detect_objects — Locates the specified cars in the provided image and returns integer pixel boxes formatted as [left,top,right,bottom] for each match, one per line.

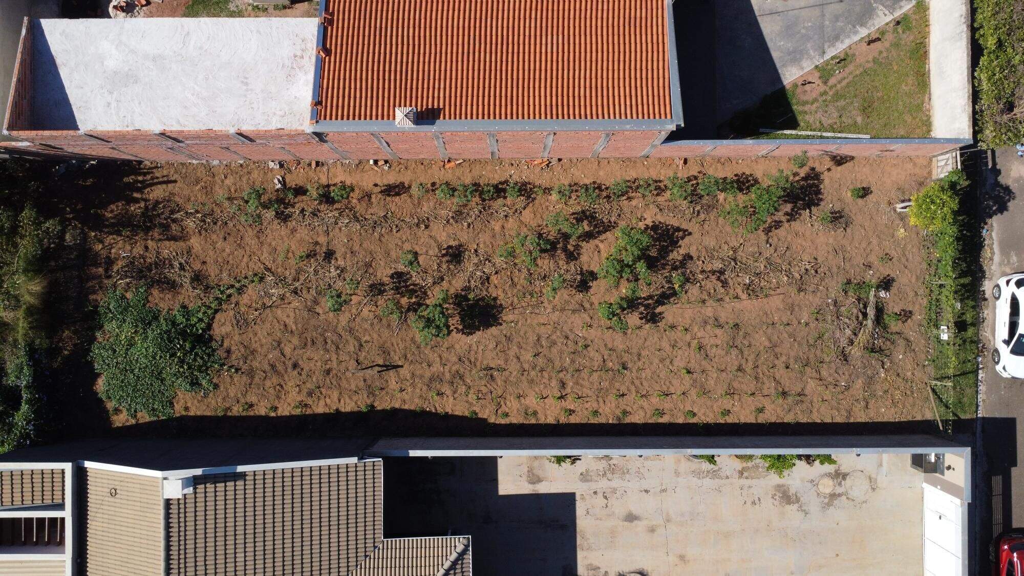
[991,530,1024,576]
[987,273,1024,379]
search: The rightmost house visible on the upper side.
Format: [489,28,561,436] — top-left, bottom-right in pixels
[307,0,684,157]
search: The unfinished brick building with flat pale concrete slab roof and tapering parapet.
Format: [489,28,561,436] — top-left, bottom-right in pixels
[0,14,342,157]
